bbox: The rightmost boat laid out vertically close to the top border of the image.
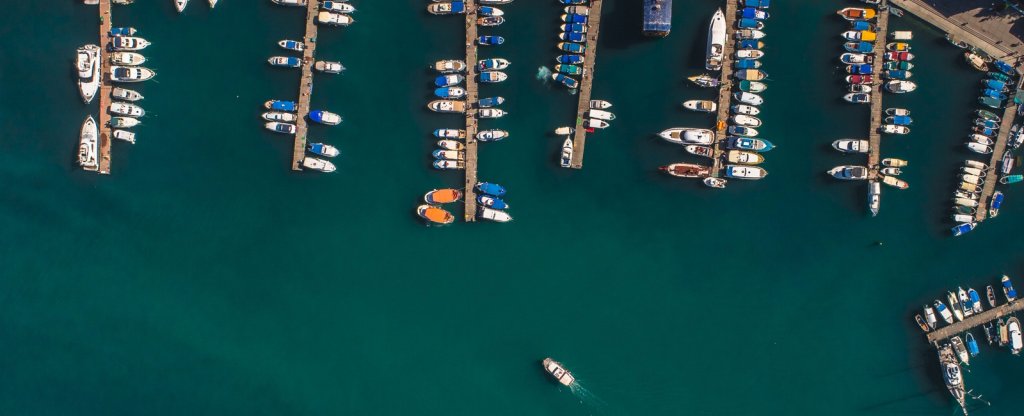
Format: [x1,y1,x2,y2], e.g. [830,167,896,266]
[705,7,726,76]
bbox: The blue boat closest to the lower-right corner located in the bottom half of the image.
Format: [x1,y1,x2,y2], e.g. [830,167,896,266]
[966,332,981,358]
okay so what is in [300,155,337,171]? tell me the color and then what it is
white boat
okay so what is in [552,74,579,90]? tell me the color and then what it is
blue boat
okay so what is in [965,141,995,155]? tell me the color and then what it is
white boat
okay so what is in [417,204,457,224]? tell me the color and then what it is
orange boat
